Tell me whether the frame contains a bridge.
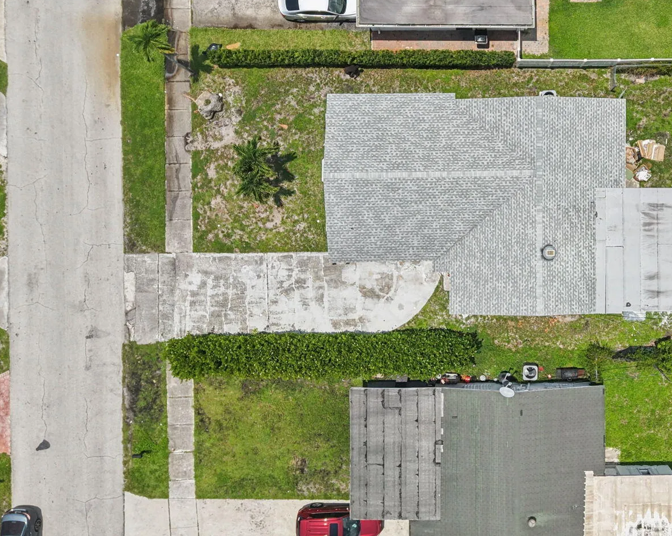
No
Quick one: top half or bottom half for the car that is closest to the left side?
bottom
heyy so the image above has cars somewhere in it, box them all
[0,510,43,536]
[297,504,383,536]
[279,0,354,27]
